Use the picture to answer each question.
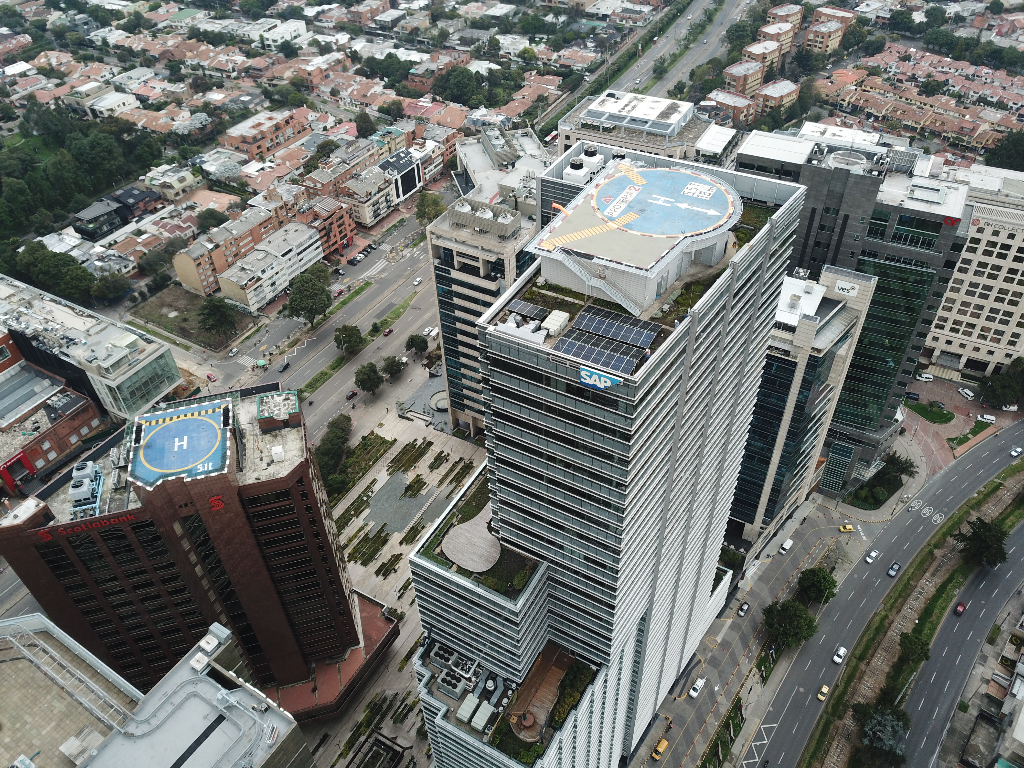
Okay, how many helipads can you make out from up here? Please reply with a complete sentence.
Looking from above, you can make out 2 helipads.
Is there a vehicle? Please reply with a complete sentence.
Yes, a vehicle is visible in the scene.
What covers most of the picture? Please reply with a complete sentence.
The scene is dominated by buildings.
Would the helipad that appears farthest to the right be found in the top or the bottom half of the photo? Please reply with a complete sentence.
You can find the helipad that appears farthest to the right in the top half.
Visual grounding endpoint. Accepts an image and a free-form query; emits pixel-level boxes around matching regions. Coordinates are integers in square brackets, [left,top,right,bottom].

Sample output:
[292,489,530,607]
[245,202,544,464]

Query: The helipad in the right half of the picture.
[526,164,749,310]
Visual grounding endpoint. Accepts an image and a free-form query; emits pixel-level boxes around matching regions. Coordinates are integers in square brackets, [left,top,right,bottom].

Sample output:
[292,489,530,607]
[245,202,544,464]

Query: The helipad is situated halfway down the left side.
[120,391,242,493]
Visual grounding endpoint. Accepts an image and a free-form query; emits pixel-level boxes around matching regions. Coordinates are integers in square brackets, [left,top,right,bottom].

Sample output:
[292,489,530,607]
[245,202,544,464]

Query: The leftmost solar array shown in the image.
[501,300,549,319]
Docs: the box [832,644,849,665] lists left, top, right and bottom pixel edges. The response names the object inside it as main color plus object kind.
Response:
white car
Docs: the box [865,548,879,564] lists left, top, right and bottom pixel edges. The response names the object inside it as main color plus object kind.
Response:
white car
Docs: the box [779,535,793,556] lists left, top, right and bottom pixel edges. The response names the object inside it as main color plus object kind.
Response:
white vehicle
